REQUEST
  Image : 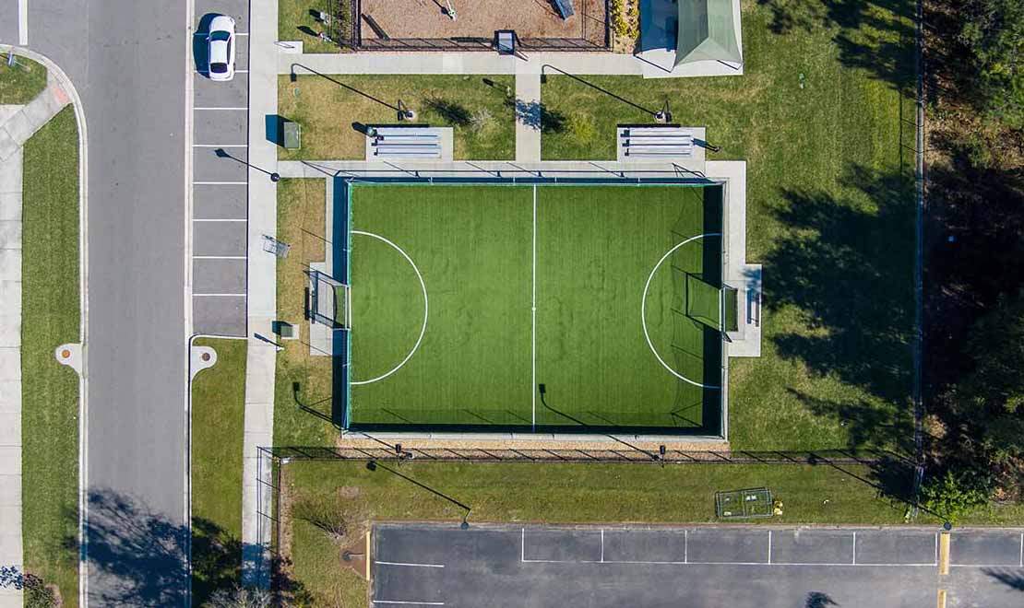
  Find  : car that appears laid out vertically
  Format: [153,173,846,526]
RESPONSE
[205,15,236,81]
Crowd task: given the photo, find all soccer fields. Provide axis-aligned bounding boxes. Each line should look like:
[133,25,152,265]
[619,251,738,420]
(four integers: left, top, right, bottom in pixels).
[336,184,737,432]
